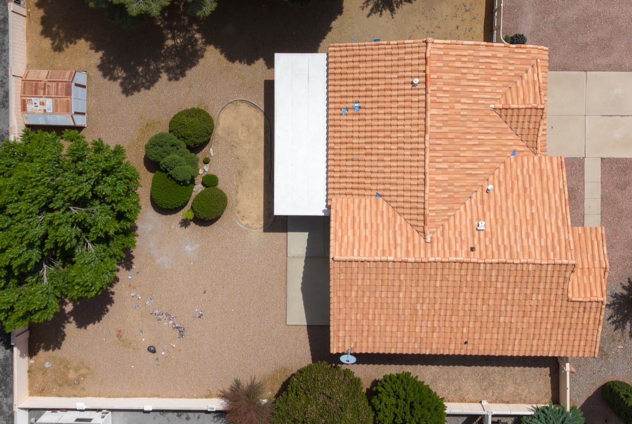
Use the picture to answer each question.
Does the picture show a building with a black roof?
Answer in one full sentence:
No, no building with a black roof can be seen from above.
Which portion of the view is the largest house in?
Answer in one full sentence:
The largest house is in the right part of the image.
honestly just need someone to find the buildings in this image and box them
[326,39,609,357]
[21,70,86,125]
